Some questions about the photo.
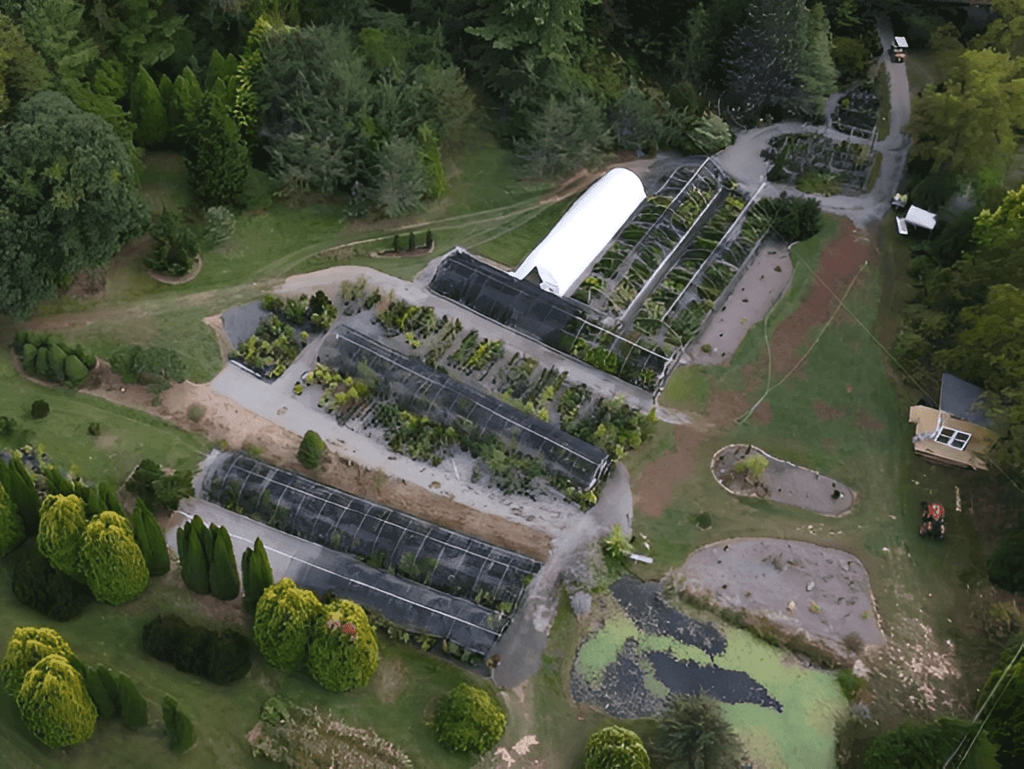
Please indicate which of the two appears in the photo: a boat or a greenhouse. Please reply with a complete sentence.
Of the two, only a greenhouse appears.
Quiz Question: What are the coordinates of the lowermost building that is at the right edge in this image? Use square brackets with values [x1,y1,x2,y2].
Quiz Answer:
[907,365,1002,475]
